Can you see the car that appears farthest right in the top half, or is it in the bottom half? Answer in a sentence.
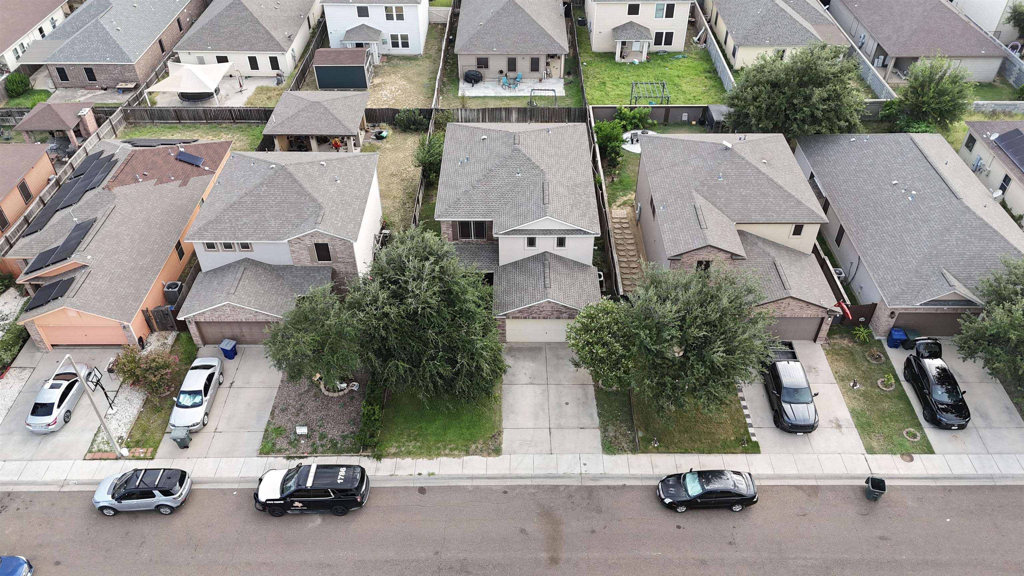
Seen from above, the car that appears farthest right lies in the bottom half of the view.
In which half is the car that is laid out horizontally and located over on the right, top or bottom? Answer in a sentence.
The car that is laid out horizontally and located over on the right sits in the bottom half of the picture.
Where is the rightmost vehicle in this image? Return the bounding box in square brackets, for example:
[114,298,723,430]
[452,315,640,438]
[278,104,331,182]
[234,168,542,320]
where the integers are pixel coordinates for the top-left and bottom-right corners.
[904,342,968,431]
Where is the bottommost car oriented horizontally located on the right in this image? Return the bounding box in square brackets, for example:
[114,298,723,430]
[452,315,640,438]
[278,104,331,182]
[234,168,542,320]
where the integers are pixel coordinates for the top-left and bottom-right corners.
[658,466,762,513]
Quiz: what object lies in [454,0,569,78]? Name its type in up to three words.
house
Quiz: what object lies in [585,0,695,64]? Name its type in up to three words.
house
